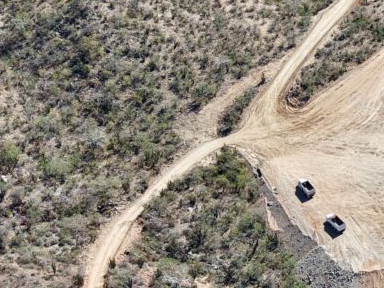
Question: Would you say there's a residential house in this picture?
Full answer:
No, there is no residential house in the image.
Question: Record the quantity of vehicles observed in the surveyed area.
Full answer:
My tally gives 2 vehicles in this view.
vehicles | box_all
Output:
[322,214,343,237]
[293,180,314,202]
